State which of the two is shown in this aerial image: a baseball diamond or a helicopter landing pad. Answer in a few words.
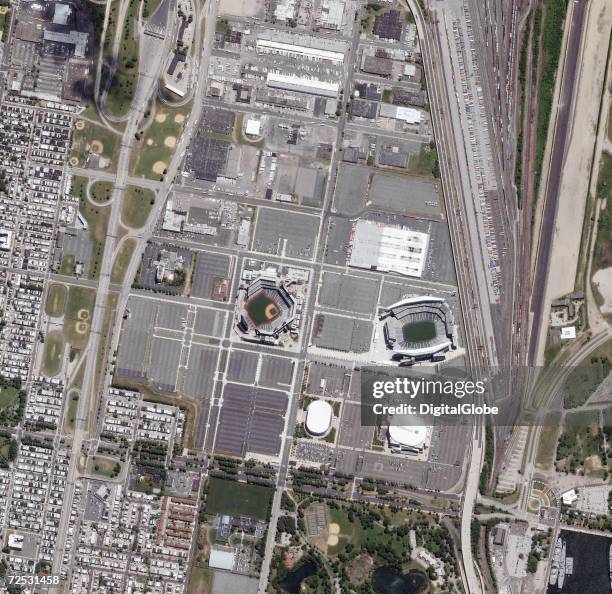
baseball diamond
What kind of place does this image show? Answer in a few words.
residential area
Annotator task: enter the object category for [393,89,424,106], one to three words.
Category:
building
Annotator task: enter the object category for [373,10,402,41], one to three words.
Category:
building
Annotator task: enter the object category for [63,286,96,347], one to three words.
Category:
baseball field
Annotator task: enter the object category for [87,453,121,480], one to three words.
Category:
sports field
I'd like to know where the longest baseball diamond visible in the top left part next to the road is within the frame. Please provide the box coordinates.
[136,111,186,176]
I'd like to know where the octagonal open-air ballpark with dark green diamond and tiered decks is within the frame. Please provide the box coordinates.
[235,278,296,345]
